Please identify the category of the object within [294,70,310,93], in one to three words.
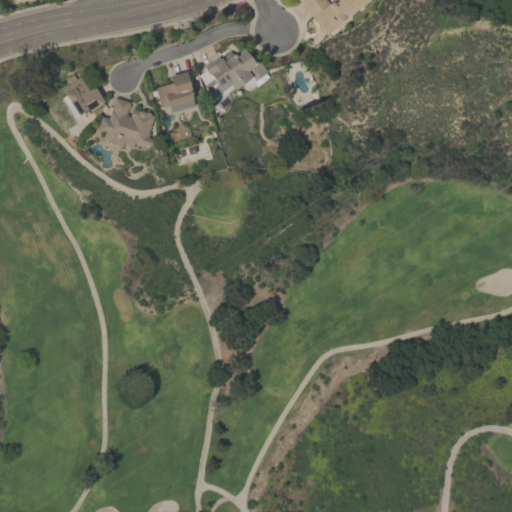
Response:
swimming pool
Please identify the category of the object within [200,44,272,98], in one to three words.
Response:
house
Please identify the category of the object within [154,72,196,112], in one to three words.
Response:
house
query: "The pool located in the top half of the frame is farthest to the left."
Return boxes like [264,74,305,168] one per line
[90,144,114,169]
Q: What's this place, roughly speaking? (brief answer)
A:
golf course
